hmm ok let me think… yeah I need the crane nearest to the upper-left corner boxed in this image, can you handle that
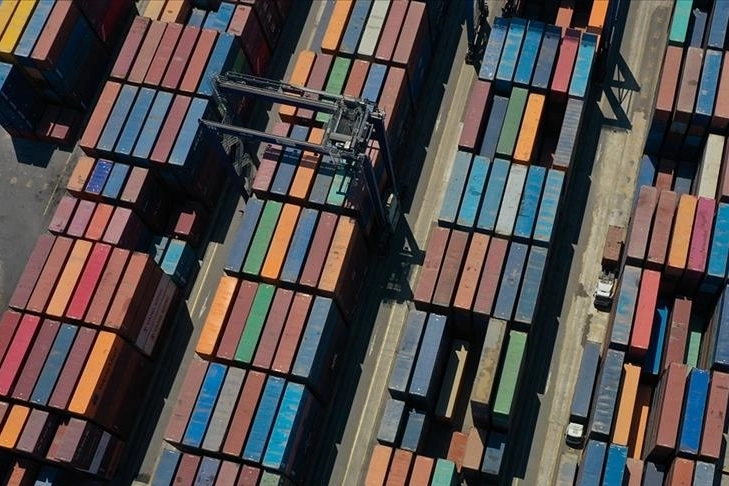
[196,74,406,246]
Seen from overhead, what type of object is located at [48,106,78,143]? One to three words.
shipping container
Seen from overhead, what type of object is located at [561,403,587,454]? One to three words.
truck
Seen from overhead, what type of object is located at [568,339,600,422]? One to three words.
shipping container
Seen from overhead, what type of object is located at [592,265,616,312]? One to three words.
truck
